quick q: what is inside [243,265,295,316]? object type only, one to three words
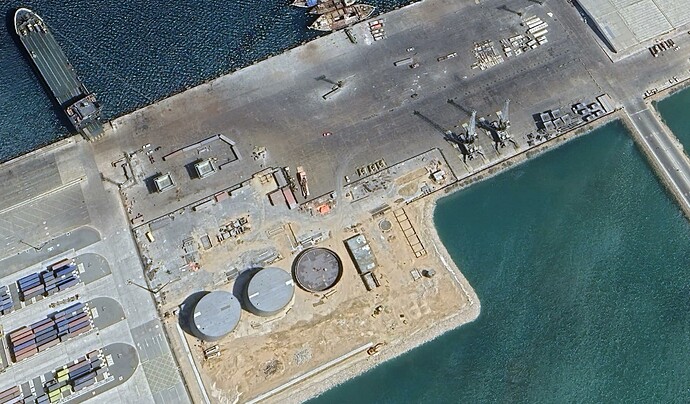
storage tank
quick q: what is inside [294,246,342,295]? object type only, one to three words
storage tank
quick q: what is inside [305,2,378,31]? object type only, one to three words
boat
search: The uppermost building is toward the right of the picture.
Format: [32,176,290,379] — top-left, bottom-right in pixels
[571,0,690,55]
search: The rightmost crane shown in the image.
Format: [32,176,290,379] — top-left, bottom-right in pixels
[484,99,522,157]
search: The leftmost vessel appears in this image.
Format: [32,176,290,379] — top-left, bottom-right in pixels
[15,7,152,143]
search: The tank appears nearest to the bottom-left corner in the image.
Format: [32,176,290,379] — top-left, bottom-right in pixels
[189,290,241,341]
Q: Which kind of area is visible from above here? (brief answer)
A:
port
